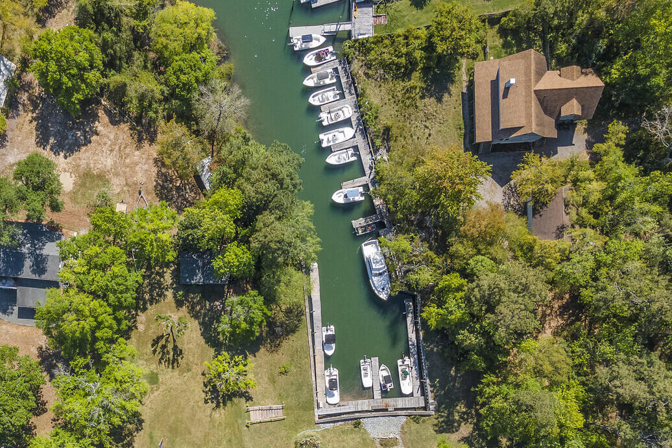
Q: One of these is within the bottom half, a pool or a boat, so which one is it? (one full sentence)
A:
Looking within the bottom half, you will find a boat.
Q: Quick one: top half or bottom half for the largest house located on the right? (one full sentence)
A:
You can find the largest house located on the right in the top half.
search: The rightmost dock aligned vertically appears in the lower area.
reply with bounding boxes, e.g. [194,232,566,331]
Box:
[400,297,422,396]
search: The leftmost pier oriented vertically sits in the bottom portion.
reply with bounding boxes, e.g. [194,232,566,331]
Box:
[310,266,326,404]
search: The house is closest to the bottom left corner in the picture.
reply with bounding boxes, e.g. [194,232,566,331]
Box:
[0,224,78,310]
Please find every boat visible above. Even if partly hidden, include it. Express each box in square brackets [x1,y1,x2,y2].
[286,32,326,56]
[325,149,360,164]
[397,351,414,395]
[332,184,372,203]
[308,87,344,103]
[323,318,339,356]
[380,365,394,391]
[324,361,341,405]
[303,46,341,65]
[359,352,378,388]
[313,129,356,150]
[303,69,341,86]
[314,106,354,130]
[348,223,377,236]
[361,235,390,301]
